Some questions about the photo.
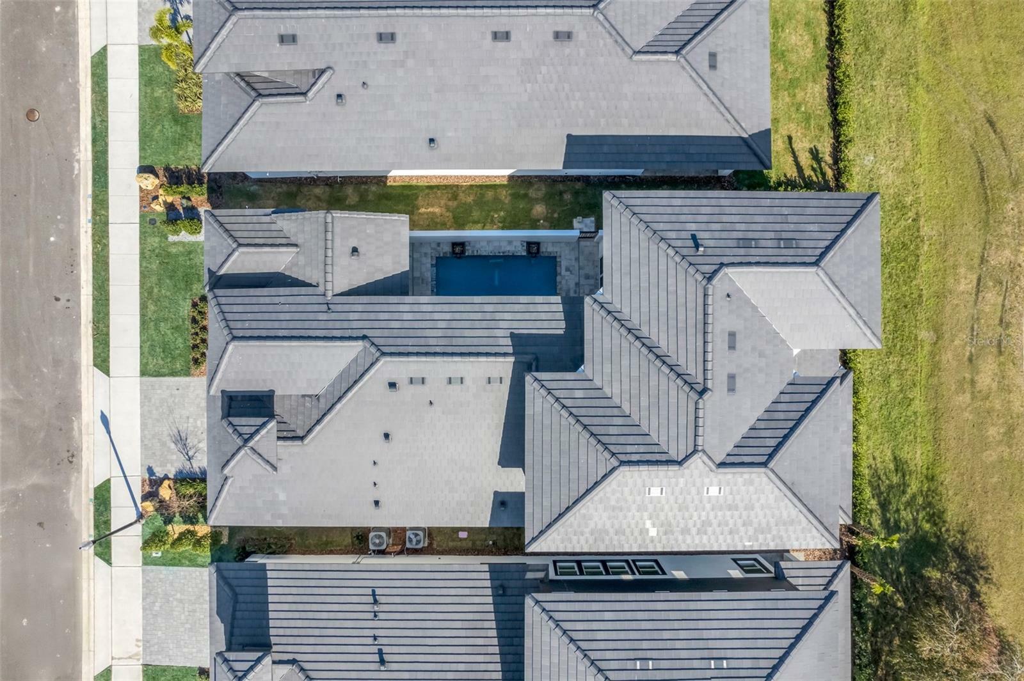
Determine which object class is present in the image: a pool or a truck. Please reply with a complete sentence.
Of the two, only a pool appears.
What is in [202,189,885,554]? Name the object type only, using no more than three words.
house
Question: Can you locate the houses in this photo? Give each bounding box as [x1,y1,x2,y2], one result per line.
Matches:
[192,0,773,178]
[208,552,854,681]
[202,189,885,554]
